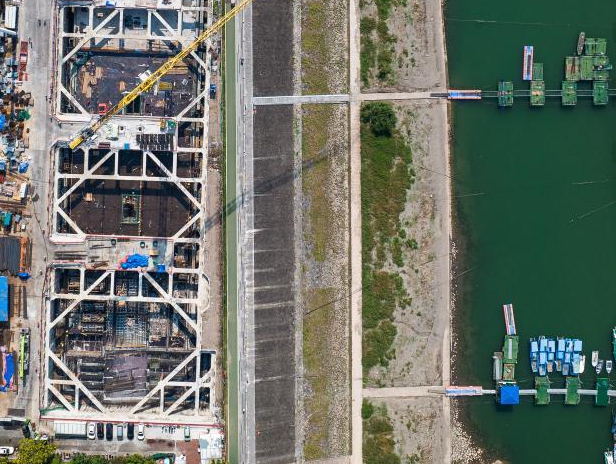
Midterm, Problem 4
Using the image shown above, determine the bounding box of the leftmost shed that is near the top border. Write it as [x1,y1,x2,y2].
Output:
[5,6,19,29]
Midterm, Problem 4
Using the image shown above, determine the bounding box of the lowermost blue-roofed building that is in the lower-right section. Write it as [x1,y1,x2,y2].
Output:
[498,385,519,406]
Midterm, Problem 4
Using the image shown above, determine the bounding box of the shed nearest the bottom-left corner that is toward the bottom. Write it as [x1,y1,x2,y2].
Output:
[55,418,88,437]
